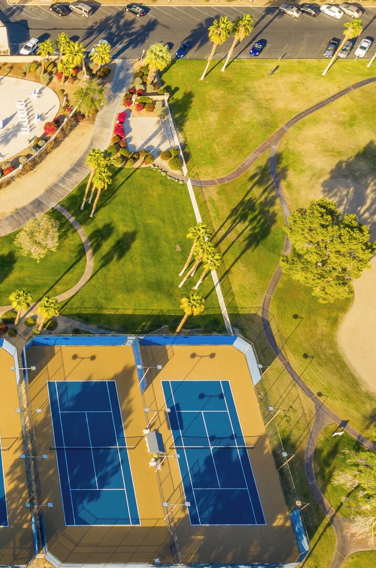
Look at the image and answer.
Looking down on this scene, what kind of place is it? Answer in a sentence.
The picture captures a sports ground.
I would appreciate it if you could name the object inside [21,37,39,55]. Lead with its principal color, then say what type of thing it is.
white car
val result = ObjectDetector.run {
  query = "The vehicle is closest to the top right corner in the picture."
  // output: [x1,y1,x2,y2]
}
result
[340,3,363,16]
